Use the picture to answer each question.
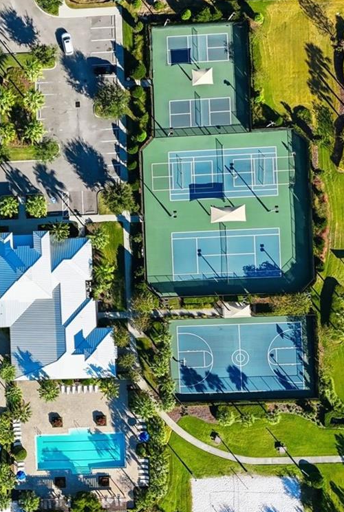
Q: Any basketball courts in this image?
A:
Yes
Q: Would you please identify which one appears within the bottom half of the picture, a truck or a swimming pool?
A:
swimming pool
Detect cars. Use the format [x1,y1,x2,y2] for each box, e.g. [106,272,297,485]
[61,31,74,55]
[94,63,116,74]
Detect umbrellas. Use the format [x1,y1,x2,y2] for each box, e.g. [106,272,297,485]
[17,473,27,484]
[141,433,152,444]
